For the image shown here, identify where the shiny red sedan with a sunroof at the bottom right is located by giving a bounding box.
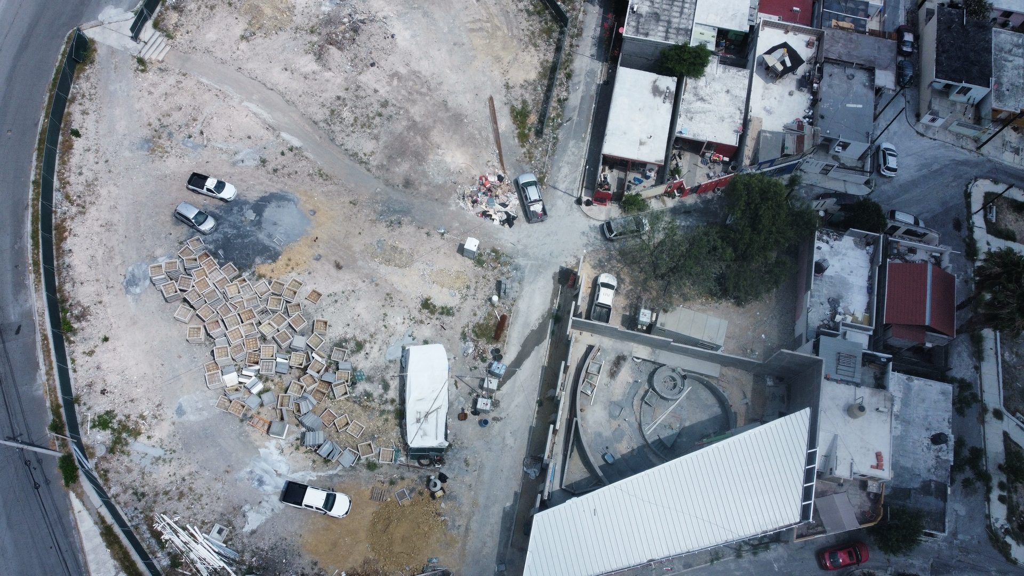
[813,540,871,573]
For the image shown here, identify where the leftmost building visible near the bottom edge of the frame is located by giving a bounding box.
[520,408,818,576]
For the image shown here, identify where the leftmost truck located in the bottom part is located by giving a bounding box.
[278,479,351,519]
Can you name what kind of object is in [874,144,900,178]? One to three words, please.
car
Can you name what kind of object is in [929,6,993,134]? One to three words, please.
house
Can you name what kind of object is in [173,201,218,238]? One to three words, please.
car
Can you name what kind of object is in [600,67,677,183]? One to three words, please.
house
